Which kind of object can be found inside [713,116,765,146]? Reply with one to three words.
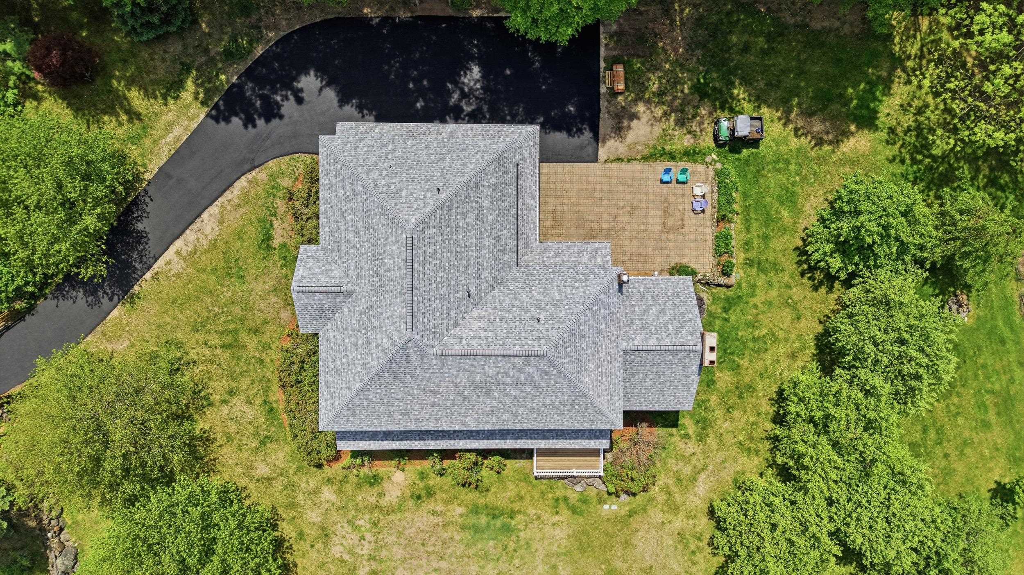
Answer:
vehicle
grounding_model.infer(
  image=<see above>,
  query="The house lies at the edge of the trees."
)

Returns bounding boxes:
[292,122,715,477]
